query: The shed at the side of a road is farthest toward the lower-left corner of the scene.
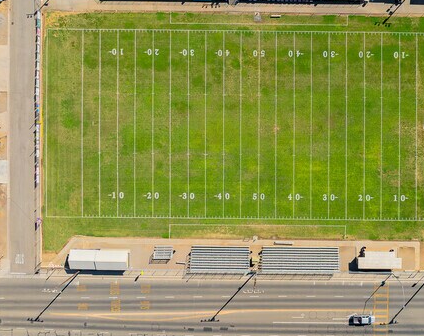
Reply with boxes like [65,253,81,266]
[68,248,97,269]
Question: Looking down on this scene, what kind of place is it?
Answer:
sports ground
